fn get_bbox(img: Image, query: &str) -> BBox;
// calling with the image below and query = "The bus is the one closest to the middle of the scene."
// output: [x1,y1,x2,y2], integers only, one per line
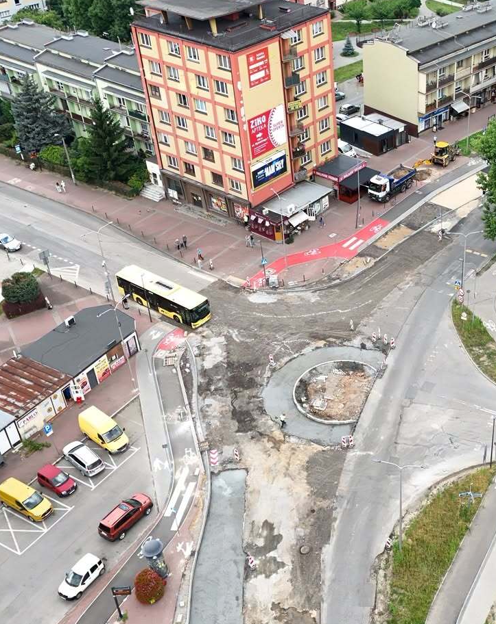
[112,261,216,331]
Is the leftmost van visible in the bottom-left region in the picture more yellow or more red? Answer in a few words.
yellow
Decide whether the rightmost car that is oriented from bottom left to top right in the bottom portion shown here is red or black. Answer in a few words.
red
